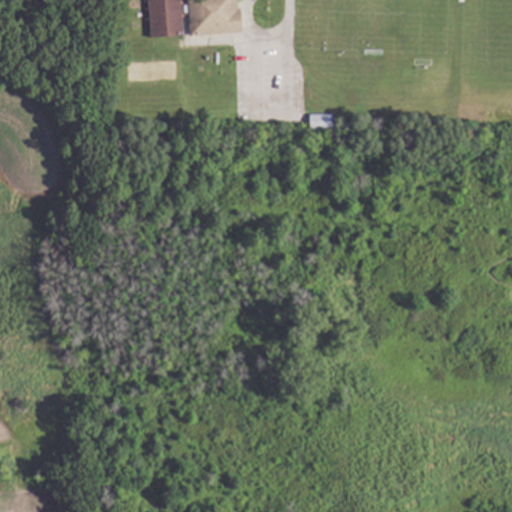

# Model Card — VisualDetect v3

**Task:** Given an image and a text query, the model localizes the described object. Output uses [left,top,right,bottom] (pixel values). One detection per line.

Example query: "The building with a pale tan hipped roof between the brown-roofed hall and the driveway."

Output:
[188,0,242,34]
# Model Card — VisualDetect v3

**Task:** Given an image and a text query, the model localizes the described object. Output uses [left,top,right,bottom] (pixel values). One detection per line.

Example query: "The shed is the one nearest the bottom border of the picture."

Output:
[310,112,334,128]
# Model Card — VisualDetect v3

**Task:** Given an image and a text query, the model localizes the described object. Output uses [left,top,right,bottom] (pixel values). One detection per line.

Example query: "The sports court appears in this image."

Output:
[128,58,176,82]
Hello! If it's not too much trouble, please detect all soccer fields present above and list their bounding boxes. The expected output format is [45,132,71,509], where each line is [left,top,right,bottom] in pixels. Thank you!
[296,0,450,54]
